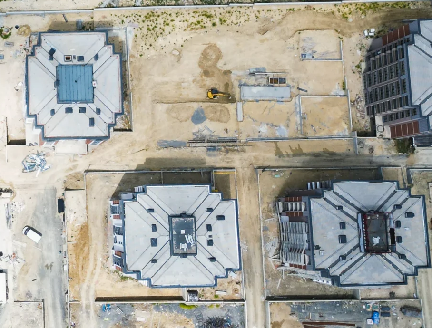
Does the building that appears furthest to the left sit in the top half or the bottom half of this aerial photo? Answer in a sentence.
You can find the building that appears furthest to the left in the top half.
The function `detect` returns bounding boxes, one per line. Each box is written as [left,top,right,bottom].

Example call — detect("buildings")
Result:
[114,185,240,288]
[361,19,432,146]
[25,31,124,154]
[281,181,432,285]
